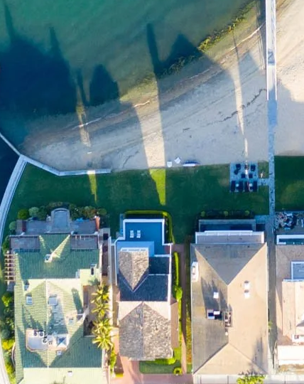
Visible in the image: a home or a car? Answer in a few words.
home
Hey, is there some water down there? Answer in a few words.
Yes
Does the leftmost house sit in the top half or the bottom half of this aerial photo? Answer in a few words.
bottom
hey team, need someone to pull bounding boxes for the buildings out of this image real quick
[14,231,112,384]
[191,229,270,374]
[114,218,181,360]
[275,231,304,365]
